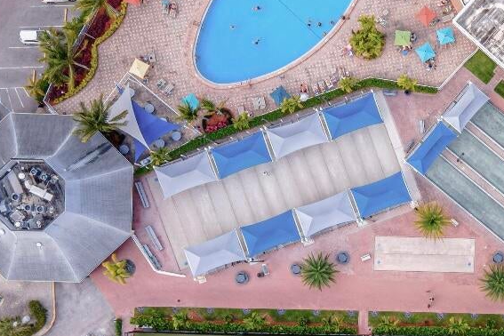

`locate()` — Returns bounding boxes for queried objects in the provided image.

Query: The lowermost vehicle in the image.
[19,27,56,45]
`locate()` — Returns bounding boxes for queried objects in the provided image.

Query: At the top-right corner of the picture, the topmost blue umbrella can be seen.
[436,27,454,45]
